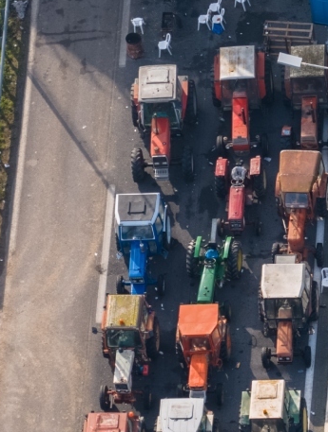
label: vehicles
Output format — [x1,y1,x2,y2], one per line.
[80,411,144,432]
[131,60,196,183]
[212,152,265,238]
[174,302,233,408]
[91,291,160,411]
[280,41,328,158]
[272,151,328,267]
[184,229,245,316]
[257,255,318,377]
[153,394,220,432]
[212,43,274,161]
[113,190,171,302]
[237,374,309,432]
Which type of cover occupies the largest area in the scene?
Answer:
paved ground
